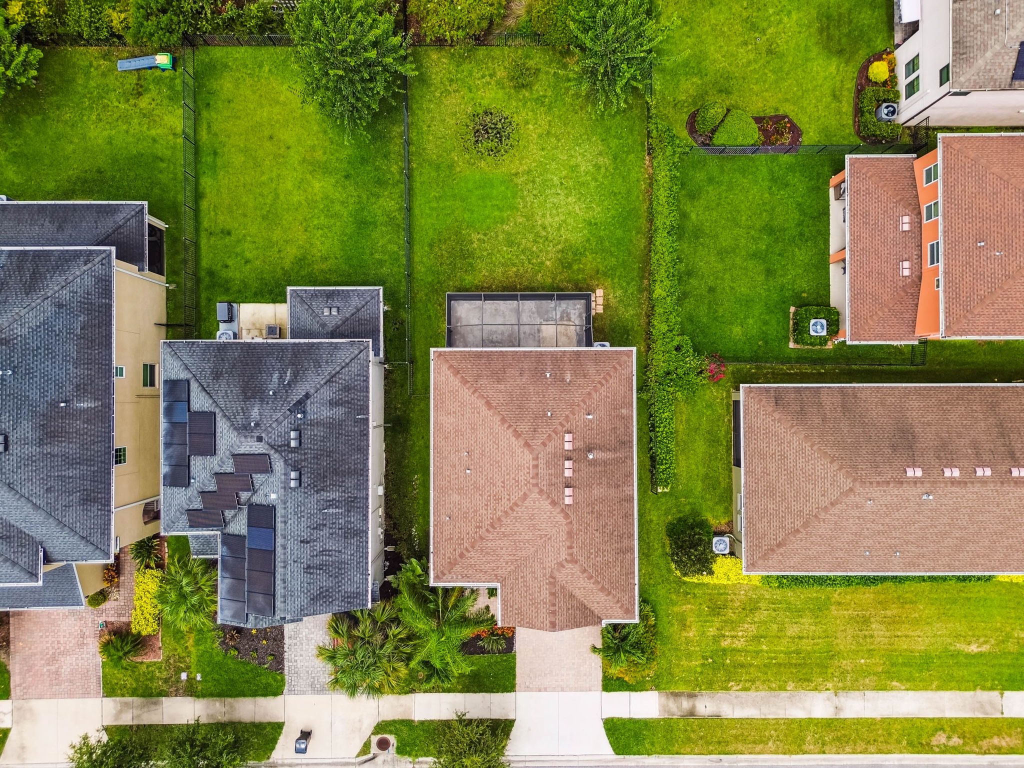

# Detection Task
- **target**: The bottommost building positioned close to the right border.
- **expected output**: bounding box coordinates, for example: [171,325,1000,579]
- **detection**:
[731,382,1024,577]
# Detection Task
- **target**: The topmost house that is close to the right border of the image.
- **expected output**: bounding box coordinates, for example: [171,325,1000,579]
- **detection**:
[894,0,1024,126]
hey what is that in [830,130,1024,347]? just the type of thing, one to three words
house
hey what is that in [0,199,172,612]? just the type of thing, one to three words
house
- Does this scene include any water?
No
